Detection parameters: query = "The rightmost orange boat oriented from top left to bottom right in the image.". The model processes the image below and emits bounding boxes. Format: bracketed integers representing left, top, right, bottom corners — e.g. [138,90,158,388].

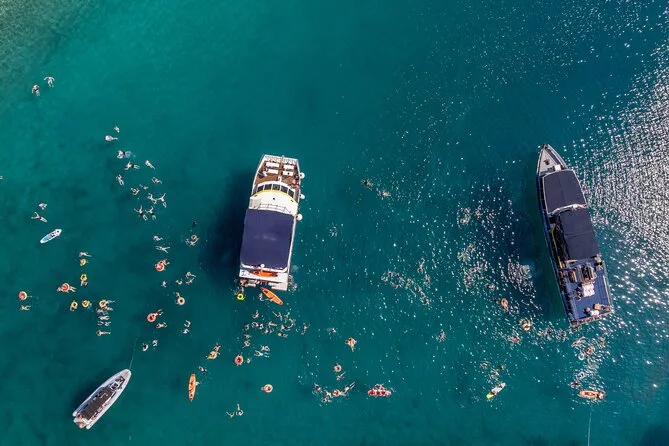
[261,288,283,305]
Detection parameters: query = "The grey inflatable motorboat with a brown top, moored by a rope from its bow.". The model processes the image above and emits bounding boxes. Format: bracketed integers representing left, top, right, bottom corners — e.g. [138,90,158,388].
[69,370,131,432]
